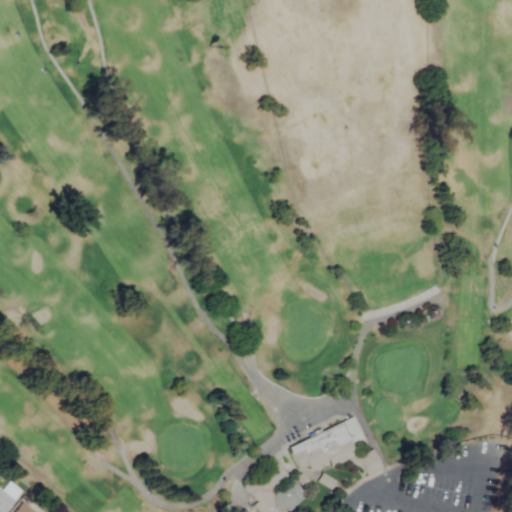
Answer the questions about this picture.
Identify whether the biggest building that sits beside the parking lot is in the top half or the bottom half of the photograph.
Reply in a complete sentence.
The biggest building that sits beside the parking lot is in the bottom half of the image.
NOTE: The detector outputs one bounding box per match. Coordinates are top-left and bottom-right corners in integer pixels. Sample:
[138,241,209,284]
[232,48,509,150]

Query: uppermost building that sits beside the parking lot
[289,416,366,473]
